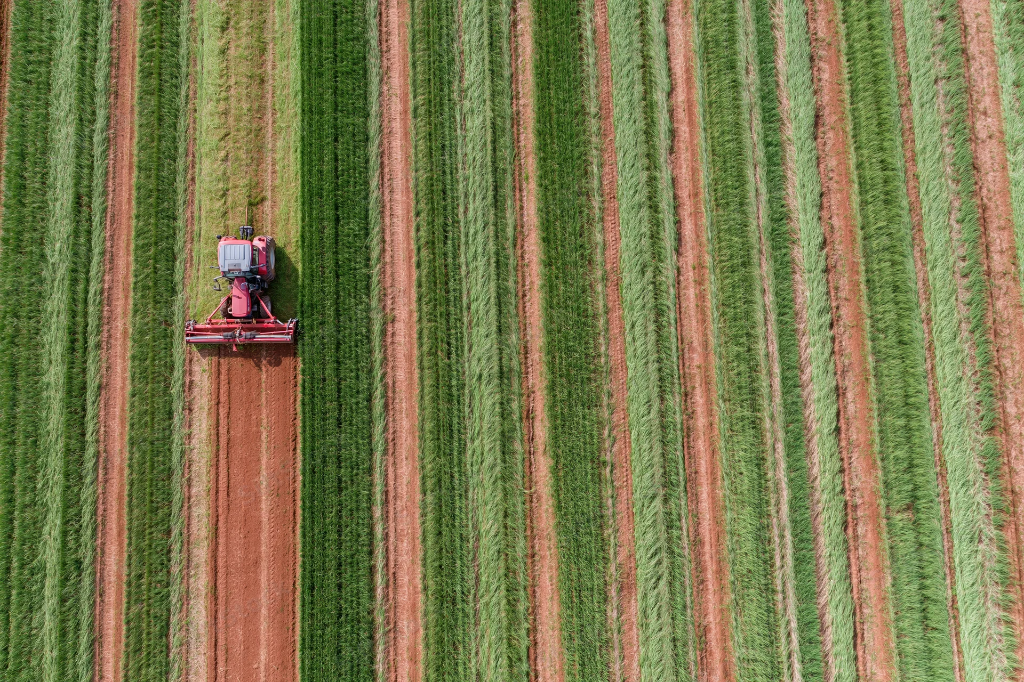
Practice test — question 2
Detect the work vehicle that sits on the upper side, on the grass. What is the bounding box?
[209,206,278,324]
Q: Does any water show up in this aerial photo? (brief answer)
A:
No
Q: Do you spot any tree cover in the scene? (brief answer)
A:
No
